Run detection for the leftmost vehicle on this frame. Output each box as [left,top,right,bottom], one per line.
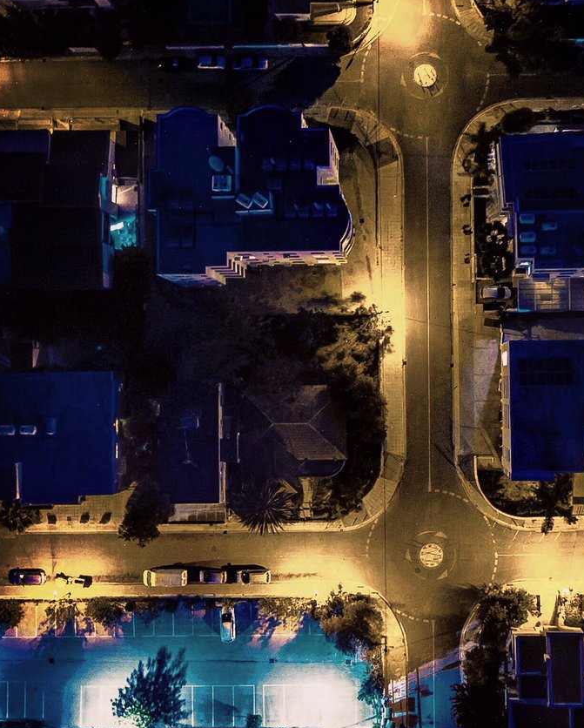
[10,570,47,587]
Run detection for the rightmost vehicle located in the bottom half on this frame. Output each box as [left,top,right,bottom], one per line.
[236,568,272,585]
